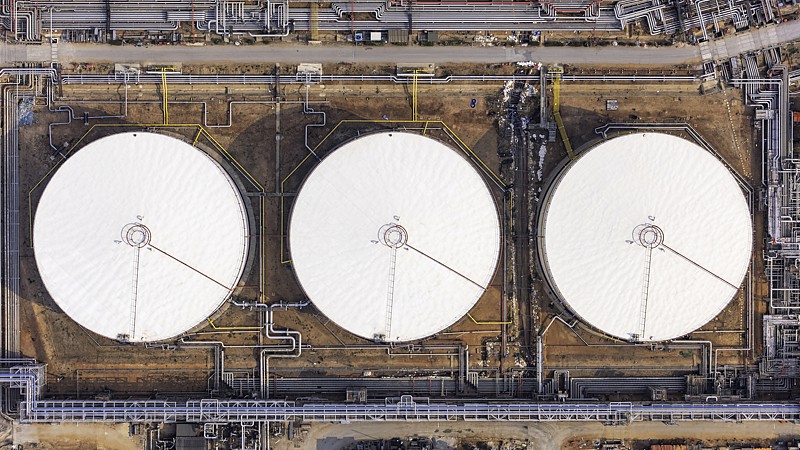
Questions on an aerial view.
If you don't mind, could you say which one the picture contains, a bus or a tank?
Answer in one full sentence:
Of the two, only a tank appears.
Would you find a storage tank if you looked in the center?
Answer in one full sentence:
Yes, looking in the center, one can make out a storage tank.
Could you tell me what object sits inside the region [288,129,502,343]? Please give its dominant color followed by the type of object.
white storage tank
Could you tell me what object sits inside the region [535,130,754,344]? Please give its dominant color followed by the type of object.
white storage tank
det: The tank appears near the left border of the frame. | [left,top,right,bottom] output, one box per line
[33,129,253,343]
